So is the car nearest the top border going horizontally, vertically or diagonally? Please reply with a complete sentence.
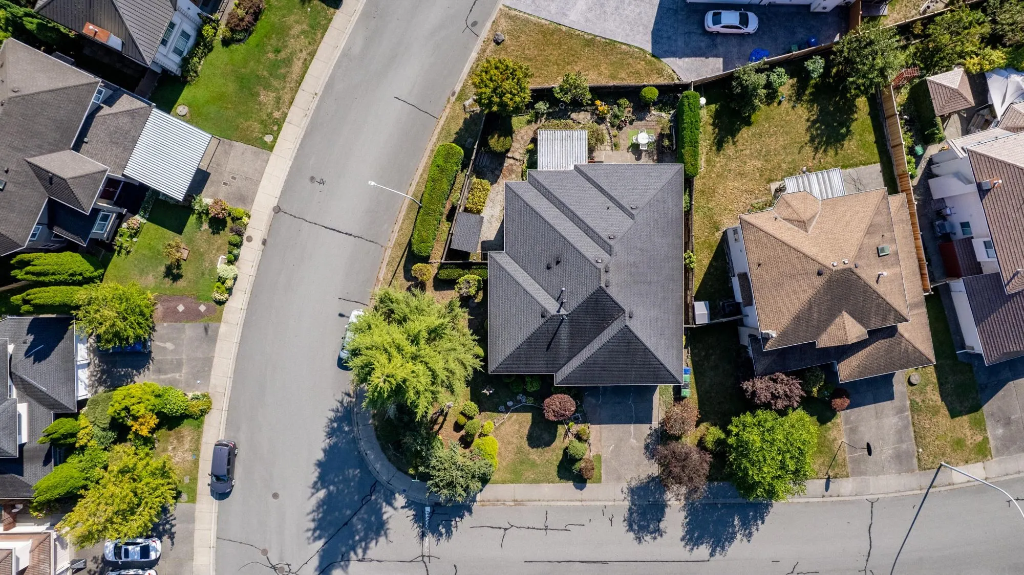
Seen from above, the car nearest the top border lies horizontally.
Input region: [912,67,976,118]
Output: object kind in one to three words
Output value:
gazebo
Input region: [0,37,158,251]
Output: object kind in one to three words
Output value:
house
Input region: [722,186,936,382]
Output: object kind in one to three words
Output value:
house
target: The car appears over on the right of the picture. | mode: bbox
[703,8,758,36]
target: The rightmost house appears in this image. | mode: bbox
[916,98,1024,366]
